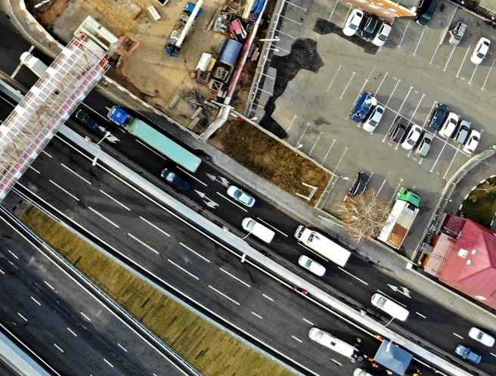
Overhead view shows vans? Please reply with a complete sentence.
Yes, the photo shows a van.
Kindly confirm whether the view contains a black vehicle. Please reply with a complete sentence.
Yes, there is a black vehicle in the image.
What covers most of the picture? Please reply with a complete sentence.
The largest share of the image is taken up by paved ground.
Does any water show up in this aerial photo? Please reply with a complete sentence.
No, there's no water in this view.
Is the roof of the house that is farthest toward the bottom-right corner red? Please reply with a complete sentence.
Yes, the roof of the house that is farthest toward the bottom-right corner appears red.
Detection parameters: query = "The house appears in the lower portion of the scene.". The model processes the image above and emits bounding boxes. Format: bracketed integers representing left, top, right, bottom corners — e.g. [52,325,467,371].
[411,212,496,310]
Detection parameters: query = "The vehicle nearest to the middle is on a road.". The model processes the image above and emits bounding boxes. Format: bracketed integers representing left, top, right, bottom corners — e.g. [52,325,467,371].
[226,183,257,209]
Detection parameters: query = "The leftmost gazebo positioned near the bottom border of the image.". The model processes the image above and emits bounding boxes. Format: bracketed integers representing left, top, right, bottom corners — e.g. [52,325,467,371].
[367,345,412,376]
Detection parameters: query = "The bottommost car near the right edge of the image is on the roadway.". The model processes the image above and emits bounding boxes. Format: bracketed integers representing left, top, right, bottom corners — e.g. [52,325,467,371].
[452,343,484,365]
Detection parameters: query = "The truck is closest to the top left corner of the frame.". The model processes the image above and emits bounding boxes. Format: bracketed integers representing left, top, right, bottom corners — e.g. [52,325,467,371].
[17,48,51,78]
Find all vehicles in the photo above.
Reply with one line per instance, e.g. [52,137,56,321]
[237,215,279,246]
[17,48,51,78]
[357,14,379,41]
[366,291,415,326]
[452,343,484,365]
[226,183,257,209]
[399,124,423,153]
[437,111,459,140]
[459,129,483,156]
[287,222,358,272]
[468,37,492,66]
[449,118,472,147]
[159,167,194,195]
[341,7,365,38]
[361,104,386,134]
[345,170,372,200]
[386,116,410,145]
[102,104,207,174]
[296,254,327,279]
[74,110,102,132]
[350,365,376,376]
[350,91,376,123]
[465,326,496,349]
[306,325,364,368]
[413,0,440,27]
[445,19,469,47]
[370,20,392,48]
[412,131,433,160]
[426,103,449,131]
